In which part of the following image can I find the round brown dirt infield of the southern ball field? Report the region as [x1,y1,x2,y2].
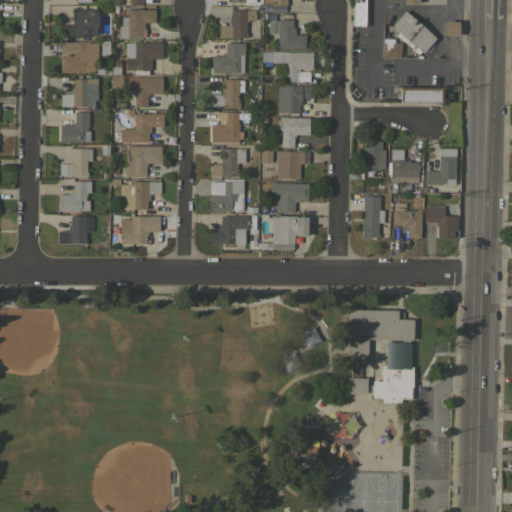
[94,443,170,512]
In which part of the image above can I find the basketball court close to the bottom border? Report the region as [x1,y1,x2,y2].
[330,472,404,512]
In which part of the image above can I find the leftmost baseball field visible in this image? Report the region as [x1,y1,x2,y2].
[0,309,60,376]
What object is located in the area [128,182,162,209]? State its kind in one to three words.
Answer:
house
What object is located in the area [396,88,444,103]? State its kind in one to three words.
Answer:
building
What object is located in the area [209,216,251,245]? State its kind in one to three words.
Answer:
house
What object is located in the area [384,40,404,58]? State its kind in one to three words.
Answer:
building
